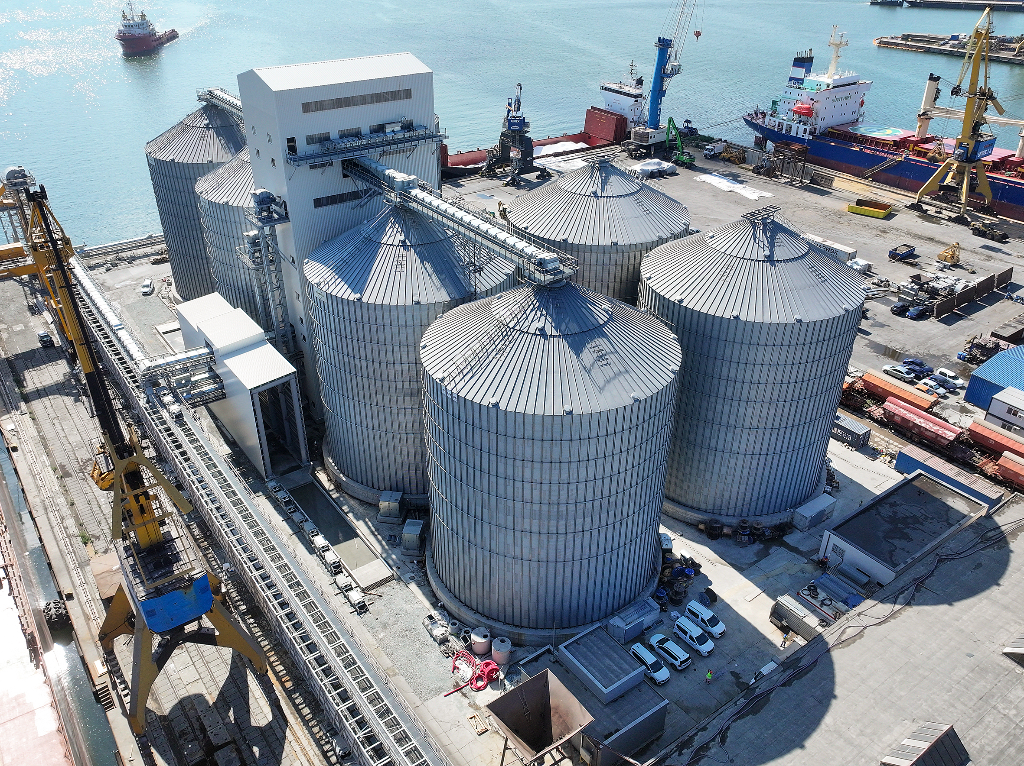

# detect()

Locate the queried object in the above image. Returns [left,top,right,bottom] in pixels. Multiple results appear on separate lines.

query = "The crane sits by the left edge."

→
[12,183,278,760]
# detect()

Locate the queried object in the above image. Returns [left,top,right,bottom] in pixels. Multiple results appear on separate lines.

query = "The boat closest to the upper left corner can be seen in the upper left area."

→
[105,0,179,58]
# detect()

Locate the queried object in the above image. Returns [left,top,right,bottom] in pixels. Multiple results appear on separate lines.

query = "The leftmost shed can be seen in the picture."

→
[171,296,315,480]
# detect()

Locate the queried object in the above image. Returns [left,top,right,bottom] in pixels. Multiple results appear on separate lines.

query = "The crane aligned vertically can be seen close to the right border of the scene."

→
[909,0,1017,217]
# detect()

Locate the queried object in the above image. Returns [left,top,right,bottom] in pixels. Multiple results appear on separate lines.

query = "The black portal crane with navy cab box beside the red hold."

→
[466,80,549,185]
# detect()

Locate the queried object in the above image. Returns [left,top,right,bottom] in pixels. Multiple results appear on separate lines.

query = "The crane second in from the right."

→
[609,0,701,159]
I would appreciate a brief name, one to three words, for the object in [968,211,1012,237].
work vehicle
